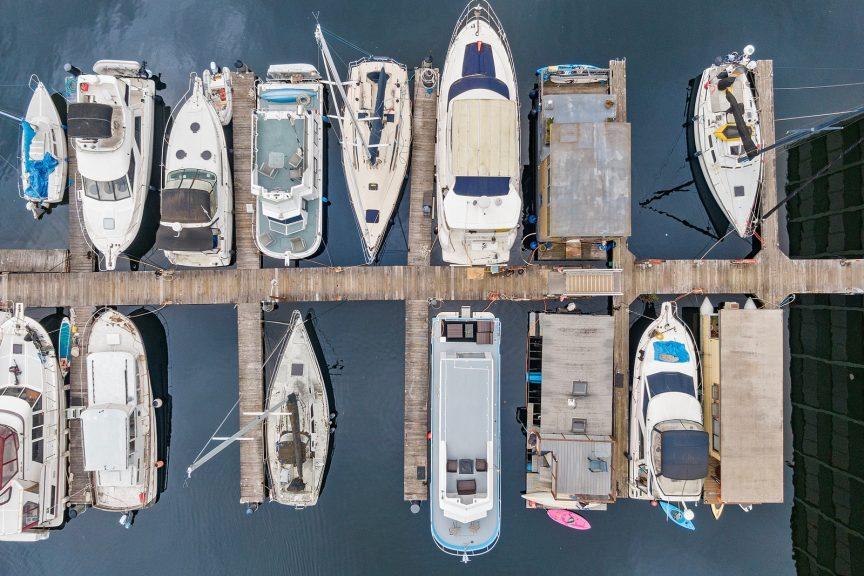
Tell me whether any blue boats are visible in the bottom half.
Yes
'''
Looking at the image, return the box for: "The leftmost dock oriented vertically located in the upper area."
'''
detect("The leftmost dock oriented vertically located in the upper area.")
[69,137,96,272]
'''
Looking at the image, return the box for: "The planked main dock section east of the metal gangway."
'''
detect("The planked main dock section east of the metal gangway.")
[633,260,864,295]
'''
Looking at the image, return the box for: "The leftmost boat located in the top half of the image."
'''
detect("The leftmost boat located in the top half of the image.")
[0,75,70,218]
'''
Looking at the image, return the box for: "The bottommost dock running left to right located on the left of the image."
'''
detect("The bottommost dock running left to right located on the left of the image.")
[0,264,606,307]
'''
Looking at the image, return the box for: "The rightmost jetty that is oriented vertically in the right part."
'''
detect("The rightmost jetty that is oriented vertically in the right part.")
[754,61,778,261]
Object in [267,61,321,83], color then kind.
white boat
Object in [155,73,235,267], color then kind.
white boat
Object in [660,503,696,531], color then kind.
blue boat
